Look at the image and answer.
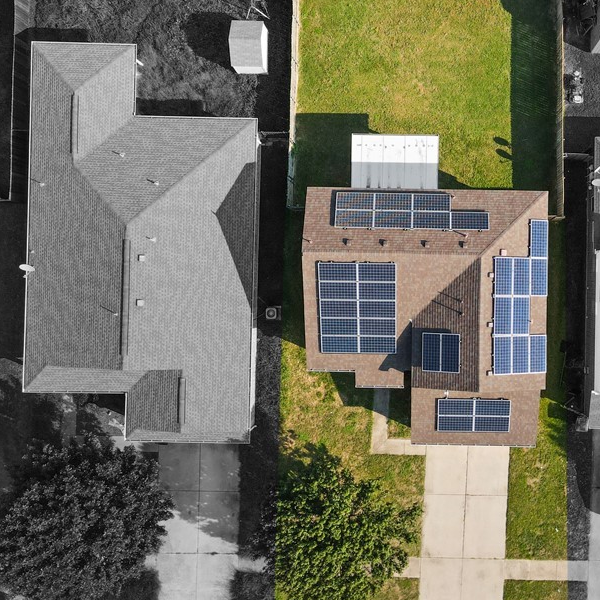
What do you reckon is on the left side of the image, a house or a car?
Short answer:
house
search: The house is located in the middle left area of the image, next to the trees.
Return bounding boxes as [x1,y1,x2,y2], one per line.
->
[22,40,263,443]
